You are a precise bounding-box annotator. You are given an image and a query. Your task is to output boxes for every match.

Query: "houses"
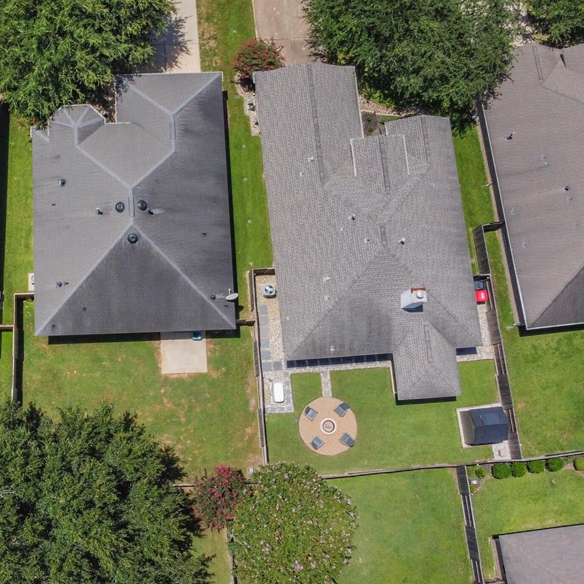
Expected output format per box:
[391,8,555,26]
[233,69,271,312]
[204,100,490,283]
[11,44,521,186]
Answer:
[253,63,483,402]
[470,43,584,331]
[485,523,584,584]
[31,71,237,337]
